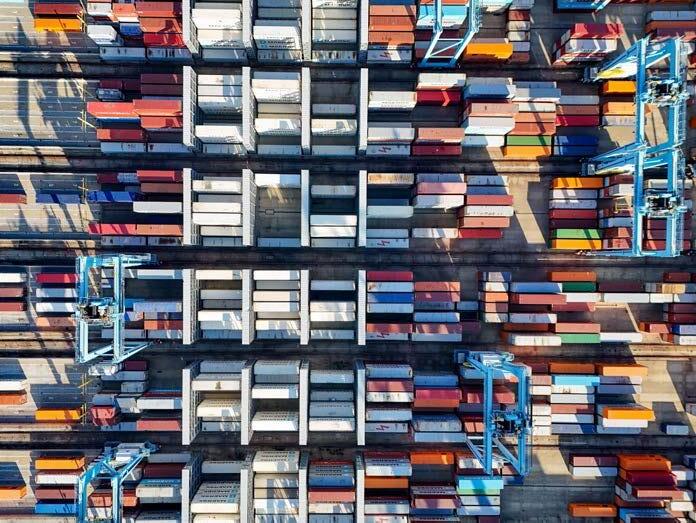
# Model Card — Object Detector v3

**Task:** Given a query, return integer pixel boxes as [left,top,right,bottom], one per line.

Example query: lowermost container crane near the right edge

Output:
[579,149,689,257]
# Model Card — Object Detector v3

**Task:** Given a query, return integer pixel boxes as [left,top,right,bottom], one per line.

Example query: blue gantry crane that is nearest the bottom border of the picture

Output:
[71,439,160,523]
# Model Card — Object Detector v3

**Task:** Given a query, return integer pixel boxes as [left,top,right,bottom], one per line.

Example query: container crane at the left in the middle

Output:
[72,250,163,362]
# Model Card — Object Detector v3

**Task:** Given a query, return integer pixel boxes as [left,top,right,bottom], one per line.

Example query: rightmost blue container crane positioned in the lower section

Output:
[456,347,536,473]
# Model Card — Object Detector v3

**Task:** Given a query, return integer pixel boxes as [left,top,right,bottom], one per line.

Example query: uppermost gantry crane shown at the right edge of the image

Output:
[580,38,689,165]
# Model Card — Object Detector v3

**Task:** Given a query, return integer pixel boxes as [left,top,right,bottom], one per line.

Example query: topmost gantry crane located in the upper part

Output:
[412,0,485,71]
